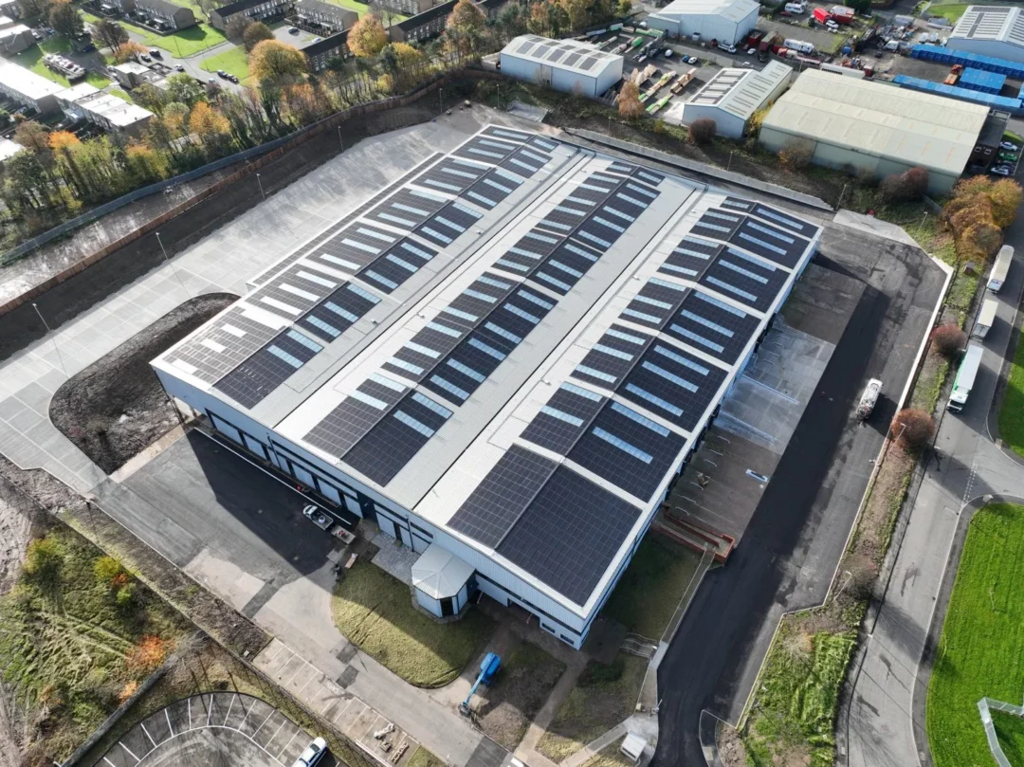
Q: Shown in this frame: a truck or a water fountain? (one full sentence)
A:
Looking from above, you can make out a truck.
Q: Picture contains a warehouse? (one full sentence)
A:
Yes, the photo shows a warehouse.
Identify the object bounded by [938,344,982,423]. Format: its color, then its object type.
white truck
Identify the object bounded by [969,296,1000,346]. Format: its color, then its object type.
white vehicle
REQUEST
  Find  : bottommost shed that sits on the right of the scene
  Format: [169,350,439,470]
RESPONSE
[616,719,651,757]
